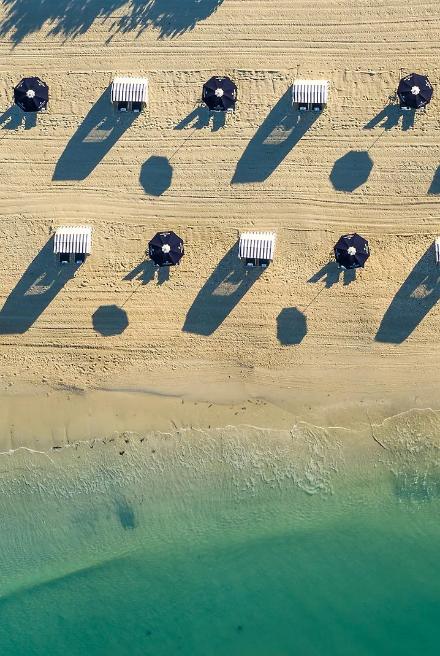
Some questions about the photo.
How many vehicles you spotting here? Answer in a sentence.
There are no vehicles in this view.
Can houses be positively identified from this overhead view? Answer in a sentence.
No, there is no house in the image.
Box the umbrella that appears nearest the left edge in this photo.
[15,77,48,112]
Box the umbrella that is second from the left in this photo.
[149,231,184,266]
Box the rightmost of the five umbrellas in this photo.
[397,74,433,109]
